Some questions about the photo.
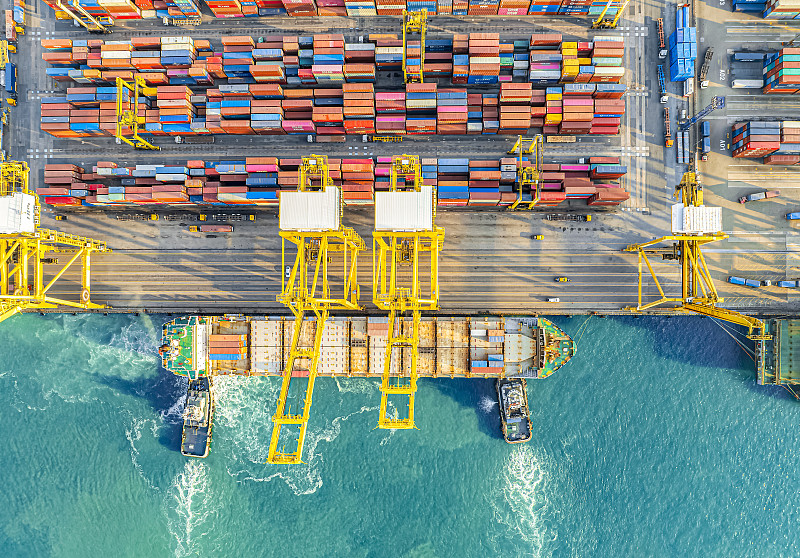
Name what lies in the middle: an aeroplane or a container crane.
container crane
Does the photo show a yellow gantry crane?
Yes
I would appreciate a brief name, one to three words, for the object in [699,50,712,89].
vehicle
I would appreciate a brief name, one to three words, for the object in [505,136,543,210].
crane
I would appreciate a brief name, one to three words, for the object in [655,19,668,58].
vehicle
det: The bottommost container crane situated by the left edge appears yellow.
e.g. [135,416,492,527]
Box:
[0,162,102,317]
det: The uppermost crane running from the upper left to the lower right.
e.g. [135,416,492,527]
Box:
[63,0,112,35]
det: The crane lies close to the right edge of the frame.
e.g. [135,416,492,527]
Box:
[620,172,788,353]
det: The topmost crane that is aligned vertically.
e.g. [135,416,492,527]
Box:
[399,7,429,91]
